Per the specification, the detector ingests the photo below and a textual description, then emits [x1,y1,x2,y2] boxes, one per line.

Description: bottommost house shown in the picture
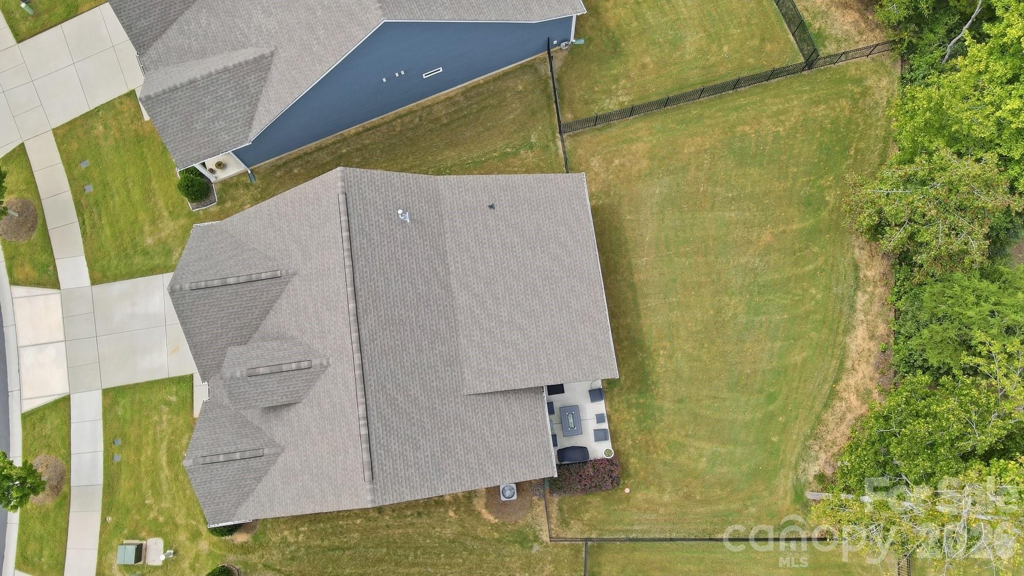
[166,164,621,530]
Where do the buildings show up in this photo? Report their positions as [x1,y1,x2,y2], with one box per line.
[107,0,588,186]
[166,164,621,530]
